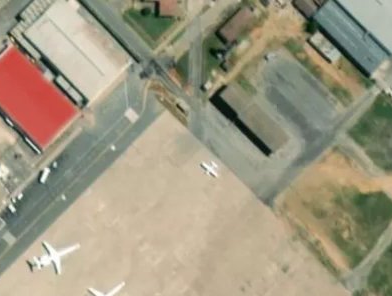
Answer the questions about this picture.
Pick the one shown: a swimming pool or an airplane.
airplane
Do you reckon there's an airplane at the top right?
No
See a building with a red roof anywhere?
Yes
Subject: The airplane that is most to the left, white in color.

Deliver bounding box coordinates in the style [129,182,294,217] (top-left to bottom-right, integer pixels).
[32,240,81,276]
